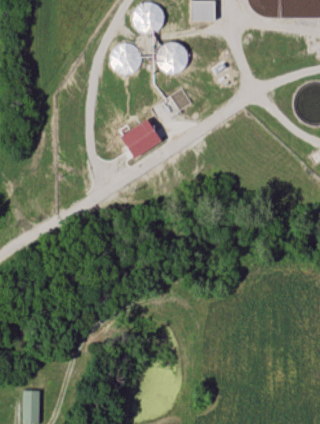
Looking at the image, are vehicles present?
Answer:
No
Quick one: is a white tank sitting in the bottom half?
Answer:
No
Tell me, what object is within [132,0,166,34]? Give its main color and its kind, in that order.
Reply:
white storage tank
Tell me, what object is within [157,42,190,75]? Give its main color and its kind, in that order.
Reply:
white storage tank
